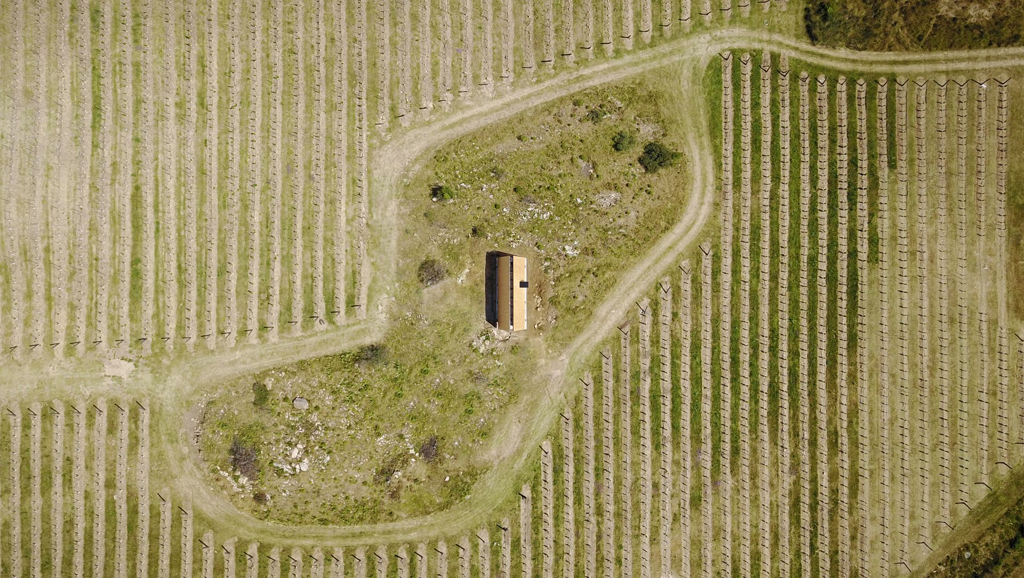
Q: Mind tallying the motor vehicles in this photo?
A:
0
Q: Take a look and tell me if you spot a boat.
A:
No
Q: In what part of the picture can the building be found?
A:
center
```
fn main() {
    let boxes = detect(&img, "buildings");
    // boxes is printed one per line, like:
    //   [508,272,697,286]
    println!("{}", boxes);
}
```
[496,256,529,331]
